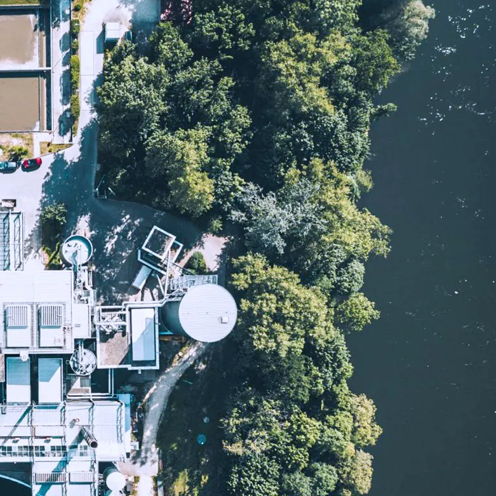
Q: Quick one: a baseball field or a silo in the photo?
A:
silo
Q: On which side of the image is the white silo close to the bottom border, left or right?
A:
left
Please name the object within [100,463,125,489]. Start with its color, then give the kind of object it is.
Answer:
white silo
